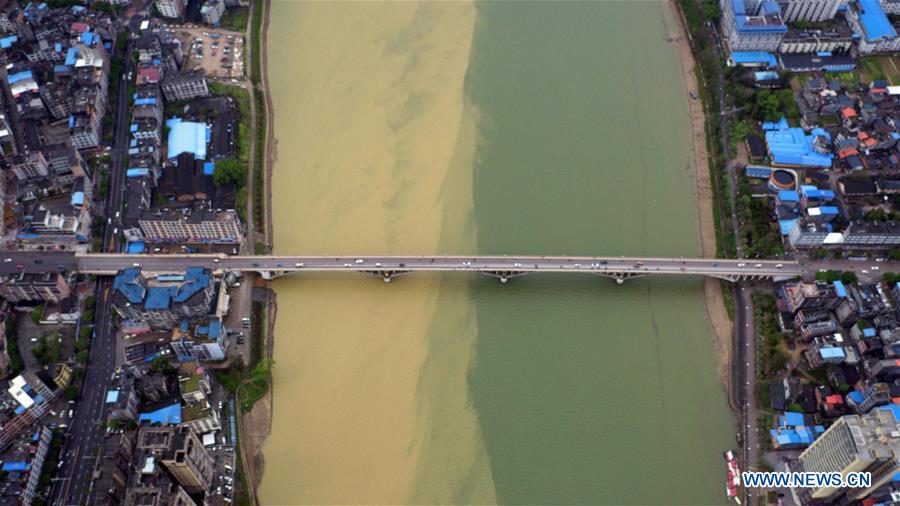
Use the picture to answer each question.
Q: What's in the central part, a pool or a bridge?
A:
bridge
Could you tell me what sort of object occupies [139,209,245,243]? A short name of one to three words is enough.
building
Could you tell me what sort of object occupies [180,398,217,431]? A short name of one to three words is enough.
building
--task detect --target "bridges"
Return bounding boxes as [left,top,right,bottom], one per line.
[74,252,801,286]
